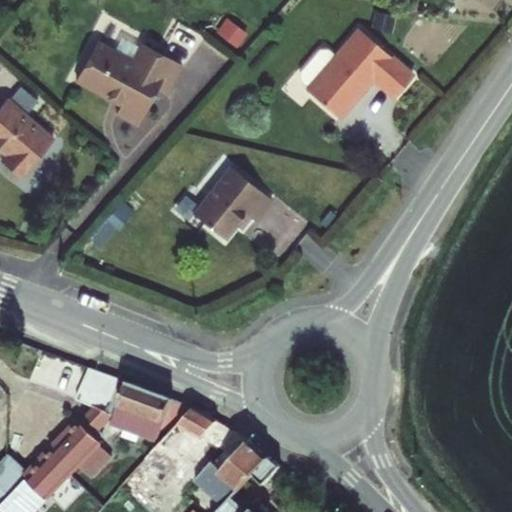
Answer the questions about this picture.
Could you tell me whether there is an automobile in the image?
Yes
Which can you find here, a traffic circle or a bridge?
traffic circle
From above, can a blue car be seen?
No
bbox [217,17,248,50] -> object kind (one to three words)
shed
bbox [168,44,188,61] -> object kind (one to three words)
car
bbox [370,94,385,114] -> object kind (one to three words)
car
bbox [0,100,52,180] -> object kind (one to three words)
house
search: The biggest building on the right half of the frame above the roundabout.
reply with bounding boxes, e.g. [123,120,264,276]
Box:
[308,29,415,120]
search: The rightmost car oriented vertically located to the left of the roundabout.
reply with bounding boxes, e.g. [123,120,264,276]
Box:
[60,367,72,390]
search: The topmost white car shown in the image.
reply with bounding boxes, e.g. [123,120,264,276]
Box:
[172,30,193,48]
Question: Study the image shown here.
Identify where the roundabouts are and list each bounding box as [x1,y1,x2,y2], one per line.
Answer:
[242,306,392,456]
